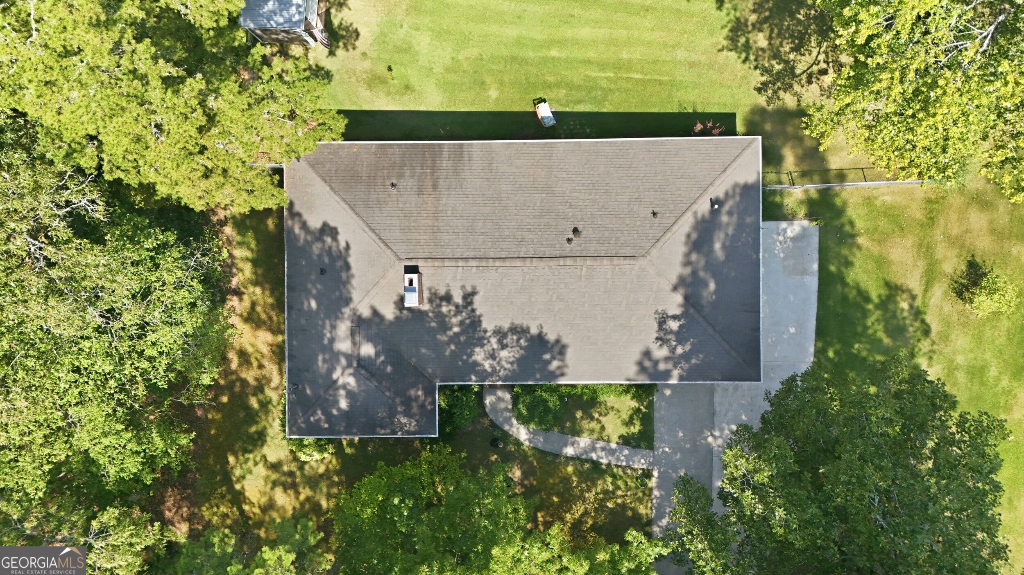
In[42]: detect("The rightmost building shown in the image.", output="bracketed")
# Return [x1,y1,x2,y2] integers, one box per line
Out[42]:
[282,134,764,440]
